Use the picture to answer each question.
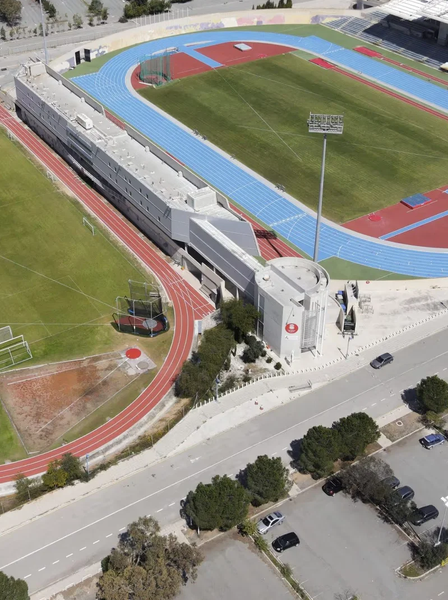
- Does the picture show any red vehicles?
No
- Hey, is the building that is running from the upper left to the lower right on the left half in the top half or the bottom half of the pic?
top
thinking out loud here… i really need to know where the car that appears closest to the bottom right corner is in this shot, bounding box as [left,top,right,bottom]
[416,499,442,519]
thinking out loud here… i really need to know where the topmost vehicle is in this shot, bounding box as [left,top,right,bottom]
[371,350,395,368]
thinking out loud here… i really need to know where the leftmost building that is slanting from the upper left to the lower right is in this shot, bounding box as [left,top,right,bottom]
[17,67,267,311]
